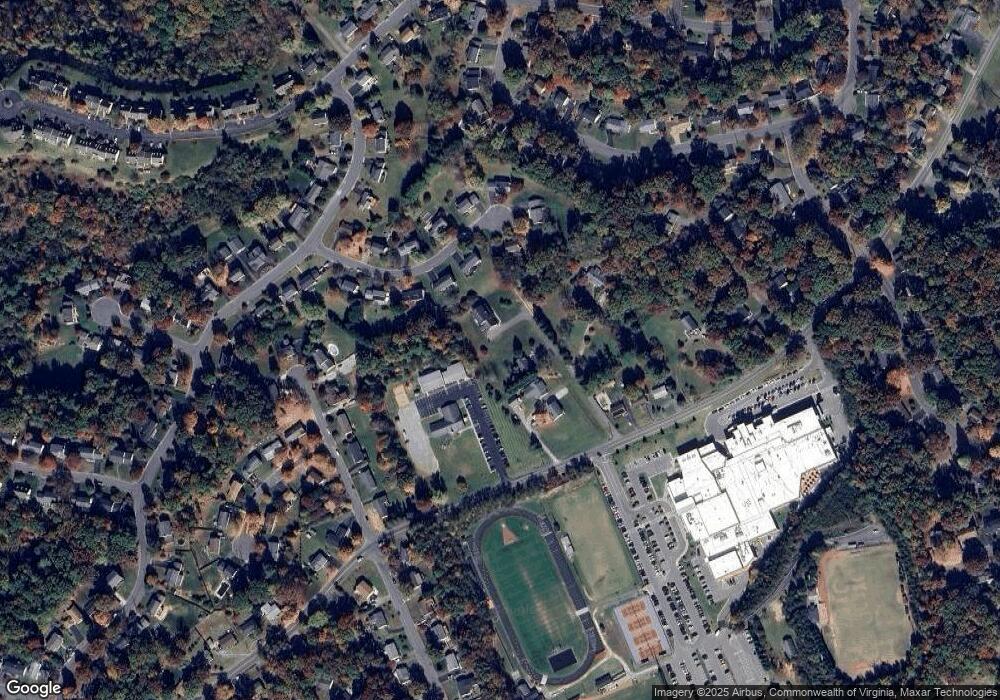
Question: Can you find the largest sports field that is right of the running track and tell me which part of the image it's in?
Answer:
bottom right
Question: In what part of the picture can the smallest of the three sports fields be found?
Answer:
bottom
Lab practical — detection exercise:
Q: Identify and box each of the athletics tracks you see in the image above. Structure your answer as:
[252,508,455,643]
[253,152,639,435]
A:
[476,507,609,687]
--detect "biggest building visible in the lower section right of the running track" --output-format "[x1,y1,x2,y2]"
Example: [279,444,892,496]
[668,407,838,579]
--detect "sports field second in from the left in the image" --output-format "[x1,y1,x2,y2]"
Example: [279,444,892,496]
[549,477,641,599]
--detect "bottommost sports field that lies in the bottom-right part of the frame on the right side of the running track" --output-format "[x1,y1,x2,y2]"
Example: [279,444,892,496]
[818,542,912,677]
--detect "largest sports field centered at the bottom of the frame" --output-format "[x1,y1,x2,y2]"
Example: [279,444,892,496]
[485,517,587,677]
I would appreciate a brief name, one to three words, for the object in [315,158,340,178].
house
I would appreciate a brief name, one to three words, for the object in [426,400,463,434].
building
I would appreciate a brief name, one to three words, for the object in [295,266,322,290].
house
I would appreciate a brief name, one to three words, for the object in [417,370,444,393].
building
